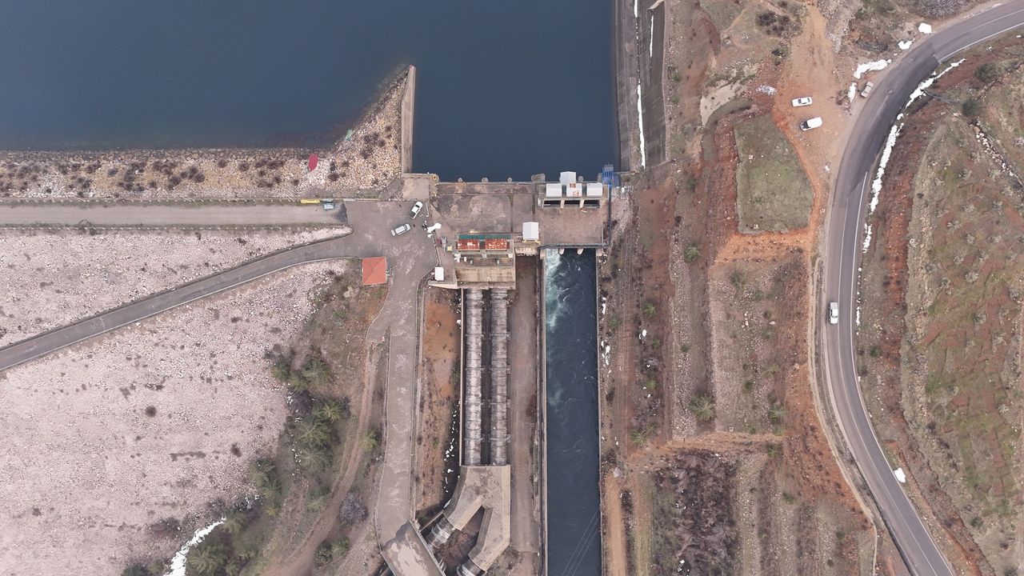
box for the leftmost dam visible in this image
[0,59,411,576]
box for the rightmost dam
[433,173,607,260]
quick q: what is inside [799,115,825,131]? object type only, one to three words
vehicle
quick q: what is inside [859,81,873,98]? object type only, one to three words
car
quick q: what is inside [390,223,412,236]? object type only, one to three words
vehicle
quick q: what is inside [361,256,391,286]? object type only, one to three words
building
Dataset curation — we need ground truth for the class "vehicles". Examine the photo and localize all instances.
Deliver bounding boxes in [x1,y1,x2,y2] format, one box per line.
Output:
[829,302,840,324]
[390,223,412,236]
[859,81,873,98]
[791,97,812,107]
[408,201,425,220]
[799,115,825,131]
